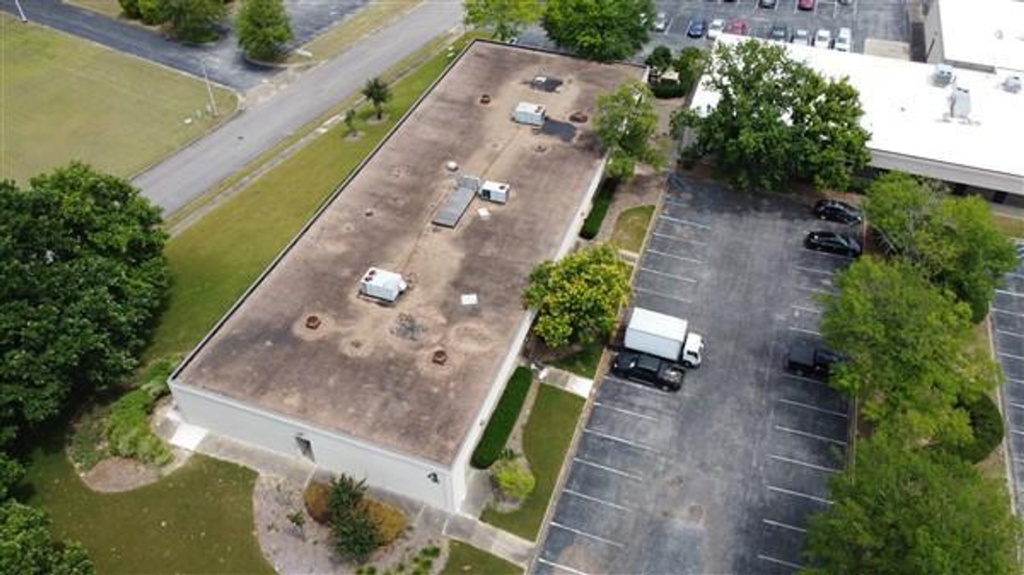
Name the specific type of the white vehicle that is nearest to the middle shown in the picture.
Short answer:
truck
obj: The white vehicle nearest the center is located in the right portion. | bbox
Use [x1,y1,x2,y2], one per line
[623,307,709,373]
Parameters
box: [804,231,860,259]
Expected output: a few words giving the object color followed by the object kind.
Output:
black car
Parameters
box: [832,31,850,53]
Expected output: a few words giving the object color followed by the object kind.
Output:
white car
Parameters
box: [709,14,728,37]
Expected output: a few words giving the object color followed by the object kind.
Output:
white car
